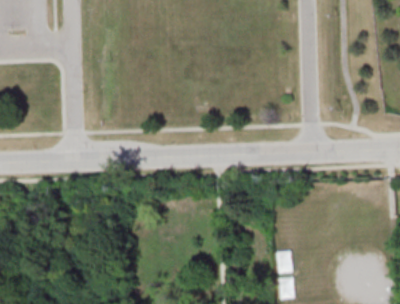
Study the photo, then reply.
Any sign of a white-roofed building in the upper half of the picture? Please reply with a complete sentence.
No, no white-roofed building can be made out in the upper half of the picture.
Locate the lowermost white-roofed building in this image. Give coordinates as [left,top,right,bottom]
[278,276,297,301]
